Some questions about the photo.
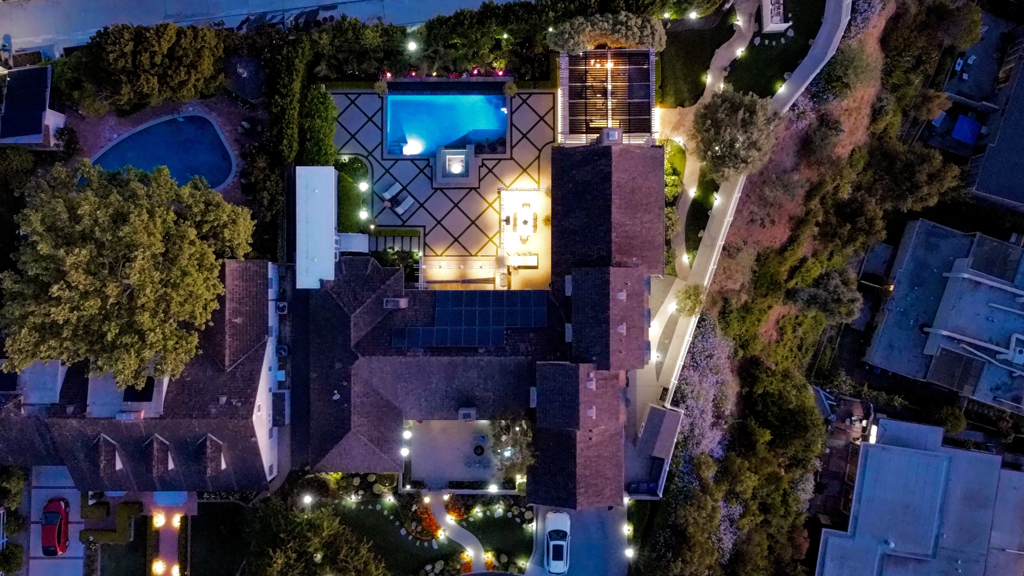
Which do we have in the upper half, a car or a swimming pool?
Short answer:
swimming pool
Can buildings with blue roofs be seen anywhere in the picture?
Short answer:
Yes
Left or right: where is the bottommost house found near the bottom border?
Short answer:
right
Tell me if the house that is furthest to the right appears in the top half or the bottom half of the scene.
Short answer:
top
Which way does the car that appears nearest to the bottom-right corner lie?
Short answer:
from top to bottom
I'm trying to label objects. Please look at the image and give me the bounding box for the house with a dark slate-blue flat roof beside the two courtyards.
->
[952,48,1024,213]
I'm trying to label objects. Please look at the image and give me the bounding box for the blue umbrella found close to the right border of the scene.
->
[950,115,982,145]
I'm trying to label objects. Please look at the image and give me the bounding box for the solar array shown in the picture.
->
[392,291,546,346]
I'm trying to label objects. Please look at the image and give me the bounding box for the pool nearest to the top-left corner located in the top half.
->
[78,113,235,202]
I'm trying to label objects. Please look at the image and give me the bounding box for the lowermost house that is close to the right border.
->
[803,413,1024,576]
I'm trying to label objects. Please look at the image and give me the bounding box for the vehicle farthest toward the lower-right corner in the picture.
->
[542,512,573,575]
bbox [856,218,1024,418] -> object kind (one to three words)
house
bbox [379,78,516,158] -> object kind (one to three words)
swimming pool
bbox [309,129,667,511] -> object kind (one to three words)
house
